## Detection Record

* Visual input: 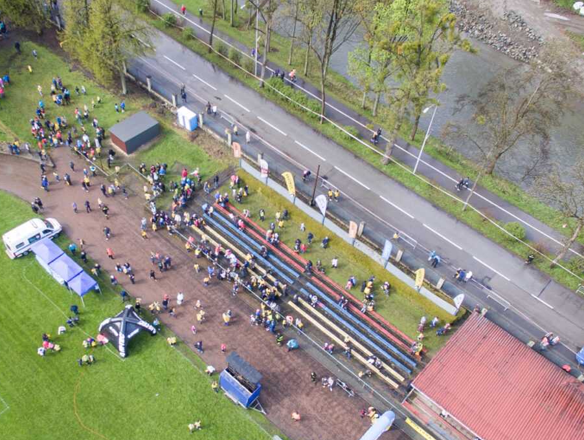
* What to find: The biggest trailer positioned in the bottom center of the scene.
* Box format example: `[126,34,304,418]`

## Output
[219,355,267,416]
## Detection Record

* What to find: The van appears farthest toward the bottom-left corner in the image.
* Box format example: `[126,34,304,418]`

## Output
[0,216,61,259]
